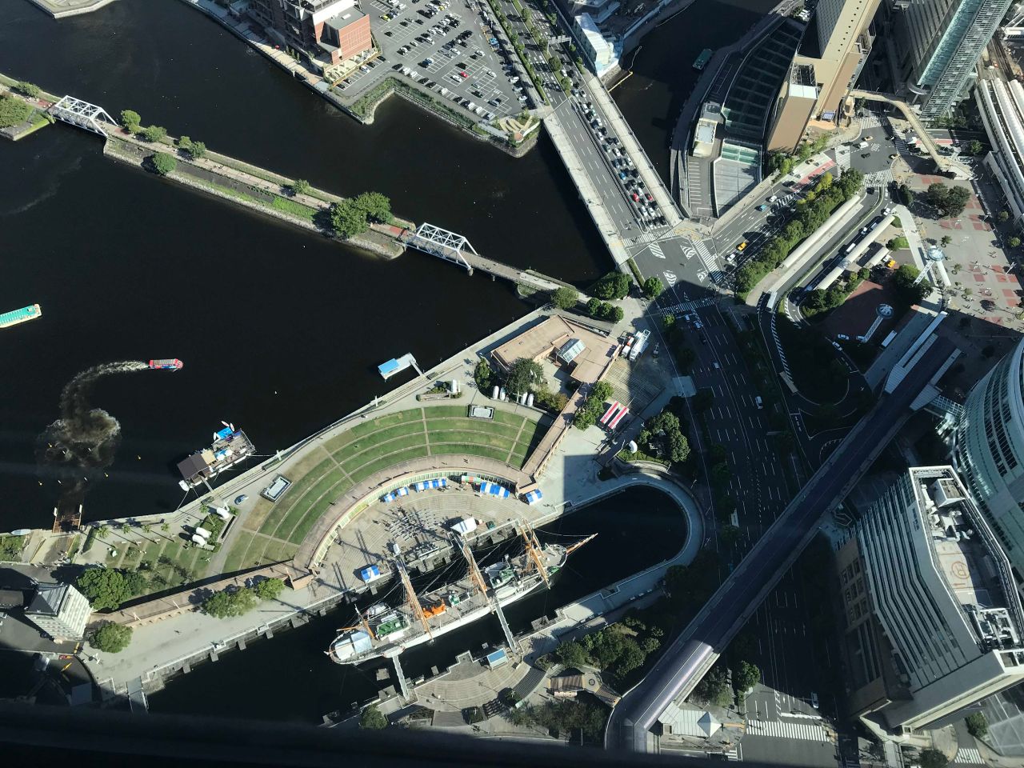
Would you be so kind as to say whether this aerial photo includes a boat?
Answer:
Yes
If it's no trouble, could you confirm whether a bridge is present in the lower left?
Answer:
No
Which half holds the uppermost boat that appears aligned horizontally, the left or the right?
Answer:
left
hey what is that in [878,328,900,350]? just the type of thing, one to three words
bus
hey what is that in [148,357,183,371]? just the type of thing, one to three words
boat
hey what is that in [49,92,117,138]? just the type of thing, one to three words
bridge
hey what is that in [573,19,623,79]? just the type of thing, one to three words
building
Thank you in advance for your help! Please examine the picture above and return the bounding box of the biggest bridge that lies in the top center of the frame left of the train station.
[542,76,686,272]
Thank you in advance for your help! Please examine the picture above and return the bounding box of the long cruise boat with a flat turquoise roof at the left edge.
[0,303,43,328]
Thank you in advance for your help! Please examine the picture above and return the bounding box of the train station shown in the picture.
[974,48,1024,232]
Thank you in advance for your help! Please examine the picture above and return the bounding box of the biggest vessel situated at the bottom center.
[321,510,600,669]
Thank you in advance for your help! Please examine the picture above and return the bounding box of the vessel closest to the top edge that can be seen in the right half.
[691,47,712,71]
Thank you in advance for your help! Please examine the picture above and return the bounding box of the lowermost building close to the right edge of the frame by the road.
[813,466,1024,728]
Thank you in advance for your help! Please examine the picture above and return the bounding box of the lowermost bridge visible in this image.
[929,397,961,440]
